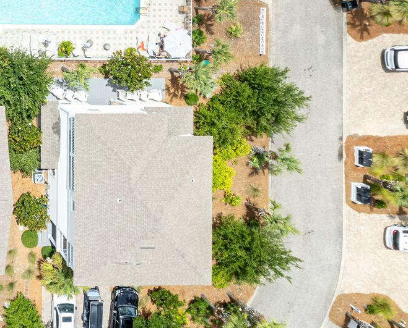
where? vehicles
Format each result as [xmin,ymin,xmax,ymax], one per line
[81,292,103,328]
[107,286,138,328]
[50,286,79,328]
[385,223,408,248]
[381,46,408,68]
